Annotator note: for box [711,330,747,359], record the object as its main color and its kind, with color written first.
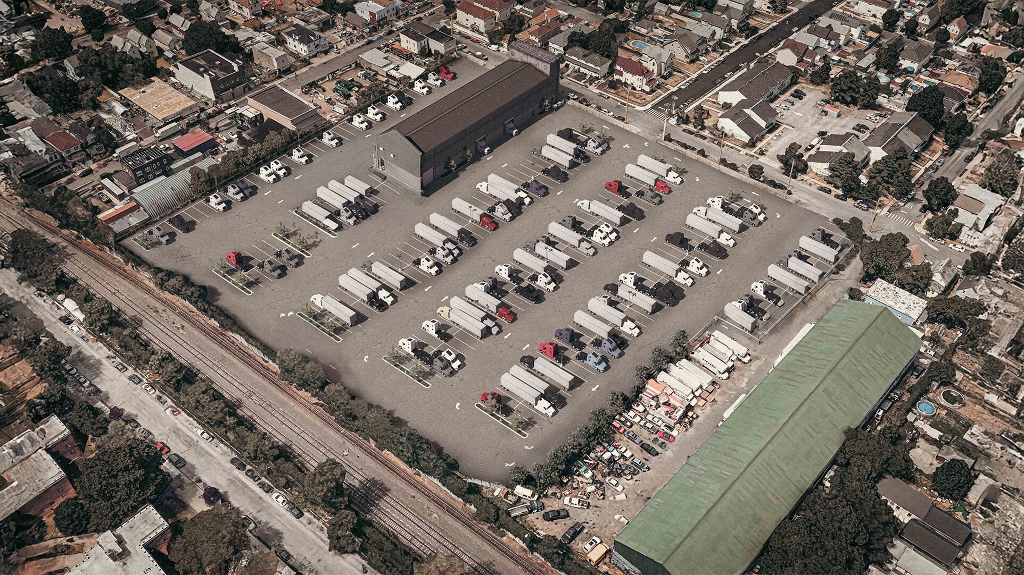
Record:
white truck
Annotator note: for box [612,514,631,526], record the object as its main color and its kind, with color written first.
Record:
white vehicle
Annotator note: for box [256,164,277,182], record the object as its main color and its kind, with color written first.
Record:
white vehicle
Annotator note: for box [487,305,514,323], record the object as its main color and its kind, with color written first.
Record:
red vehicle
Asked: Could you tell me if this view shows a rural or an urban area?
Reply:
urban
